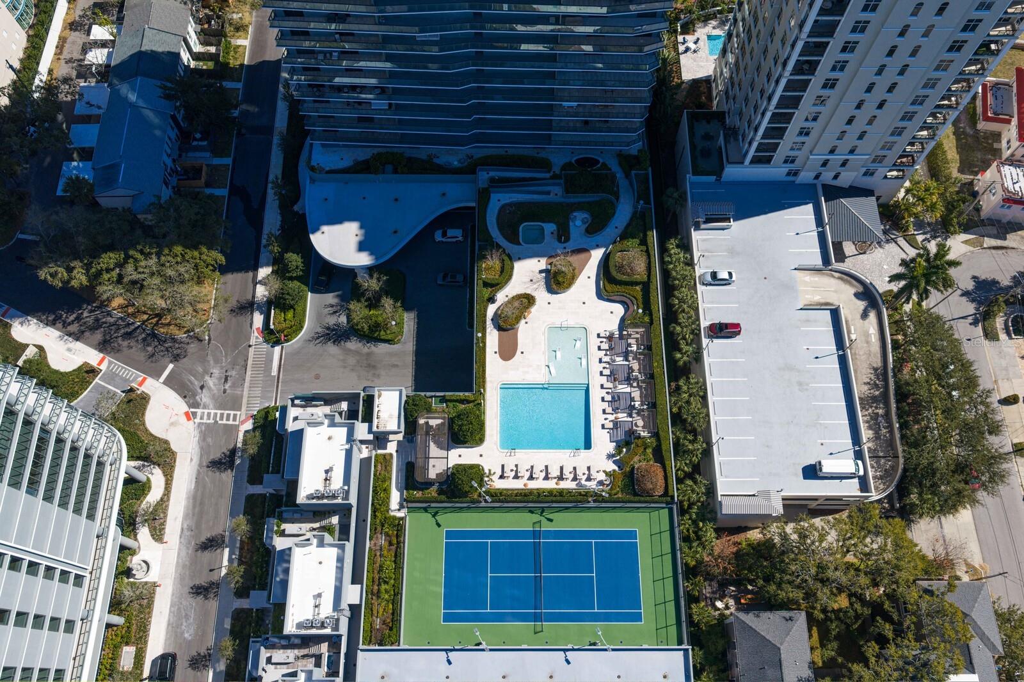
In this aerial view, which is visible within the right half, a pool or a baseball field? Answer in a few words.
pool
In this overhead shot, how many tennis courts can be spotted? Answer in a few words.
one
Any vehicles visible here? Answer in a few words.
Yes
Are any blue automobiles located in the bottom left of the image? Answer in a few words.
No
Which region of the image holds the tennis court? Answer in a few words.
bottom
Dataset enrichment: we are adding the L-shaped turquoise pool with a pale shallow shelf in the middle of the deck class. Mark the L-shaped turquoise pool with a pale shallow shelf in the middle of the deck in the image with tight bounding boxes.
[498,324,593,451]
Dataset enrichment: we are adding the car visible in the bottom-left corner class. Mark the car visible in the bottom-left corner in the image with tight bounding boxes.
[153,648,177,682]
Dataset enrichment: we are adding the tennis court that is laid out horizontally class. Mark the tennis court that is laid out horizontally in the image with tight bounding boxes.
[402,506,685,647]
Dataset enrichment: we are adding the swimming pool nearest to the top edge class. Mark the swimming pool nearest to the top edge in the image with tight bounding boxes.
[705,31,731,56]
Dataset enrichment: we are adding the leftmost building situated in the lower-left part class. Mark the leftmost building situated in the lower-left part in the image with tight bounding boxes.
[0,355,151,682]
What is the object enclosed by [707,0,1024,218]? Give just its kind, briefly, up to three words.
building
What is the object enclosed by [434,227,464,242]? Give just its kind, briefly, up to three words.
car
